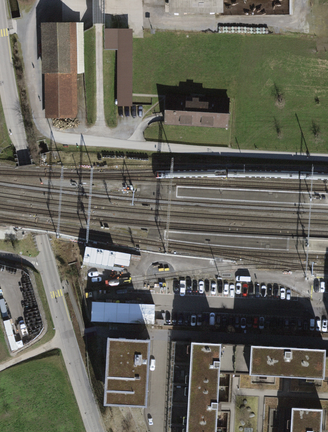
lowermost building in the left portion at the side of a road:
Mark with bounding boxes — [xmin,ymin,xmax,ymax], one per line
[103,336,150,407]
